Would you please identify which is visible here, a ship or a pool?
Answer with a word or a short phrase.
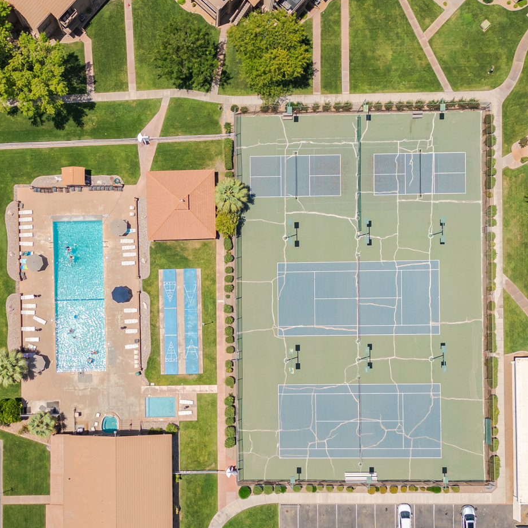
pool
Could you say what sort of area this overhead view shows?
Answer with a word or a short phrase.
sports ground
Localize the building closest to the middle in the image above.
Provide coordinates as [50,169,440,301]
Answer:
[146,169,217,241]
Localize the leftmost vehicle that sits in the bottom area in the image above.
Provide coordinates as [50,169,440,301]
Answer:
[398,504,414,528]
